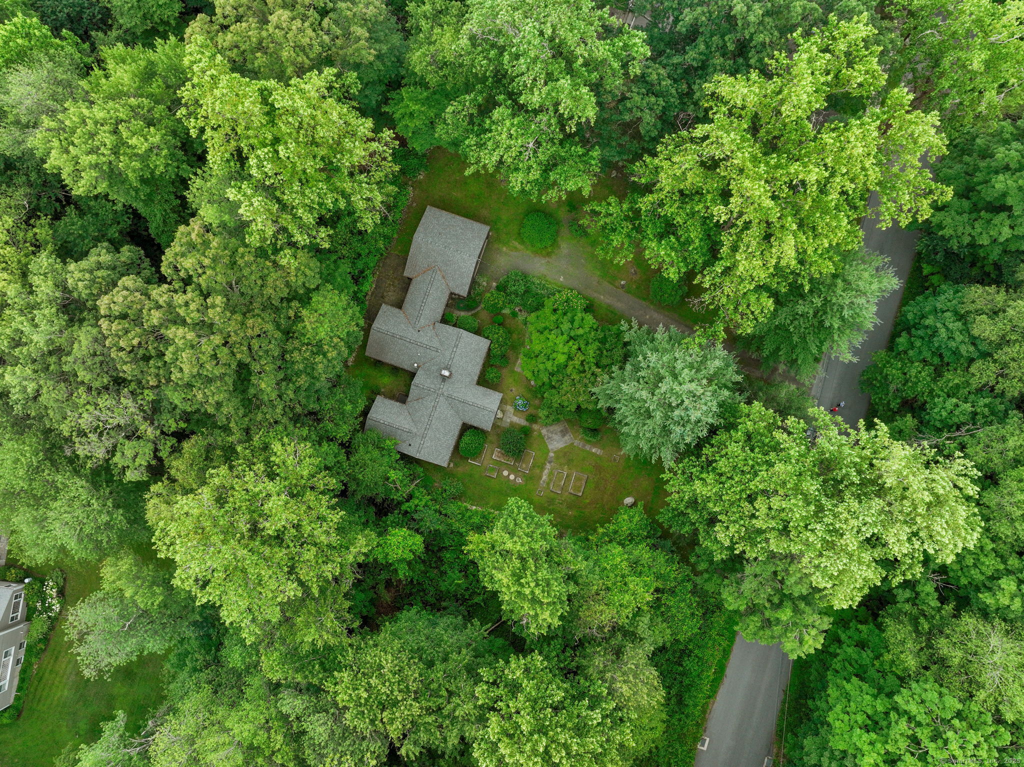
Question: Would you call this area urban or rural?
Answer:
rural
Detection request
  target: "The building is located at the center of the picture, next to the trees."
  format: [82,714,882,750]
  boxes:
[363,204,503,467]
